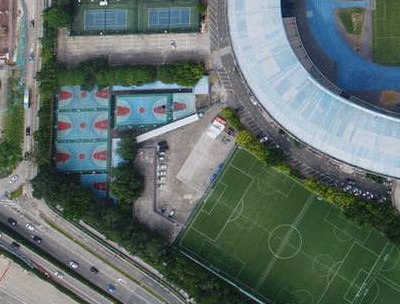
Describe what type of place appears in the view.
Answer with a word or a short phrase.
sports ground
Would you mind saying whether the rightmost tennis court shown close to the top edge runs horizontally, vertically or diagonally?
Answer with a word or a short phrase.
horizontally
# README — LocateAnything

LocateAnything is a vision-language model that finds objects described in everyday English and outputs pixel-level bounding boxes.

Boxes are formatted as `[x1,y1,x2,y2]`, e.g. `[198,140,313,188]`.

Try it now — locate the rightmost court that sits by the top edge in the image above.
[148,6,191,29]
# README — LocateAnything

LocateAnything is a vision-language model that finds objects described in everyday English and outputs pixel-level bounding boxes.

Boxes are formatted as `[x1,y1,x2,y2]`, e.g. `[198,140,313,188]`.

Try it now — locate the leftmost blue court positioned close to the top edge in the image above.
[85,8,128,30]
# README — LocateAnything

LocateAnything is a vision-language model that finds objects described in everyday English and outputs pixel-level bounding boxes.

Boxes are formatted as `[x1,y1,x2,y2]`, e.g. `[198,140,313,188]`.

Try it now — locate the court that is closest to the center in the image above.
[168,92,195,121]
